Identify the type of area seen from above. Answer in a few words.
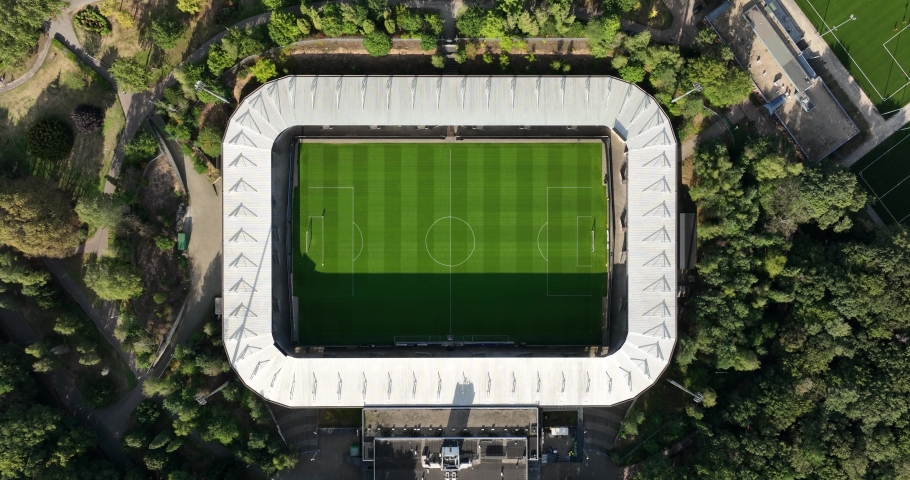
sports ground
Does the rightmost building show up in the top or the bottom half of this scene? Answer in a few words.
top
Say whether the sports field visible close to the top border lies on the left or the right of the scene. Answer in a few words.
right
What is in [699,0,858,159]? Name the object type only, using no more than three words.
building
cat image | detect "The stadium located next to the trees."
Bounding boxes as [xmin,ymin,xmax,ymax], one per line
[220,72,680,412]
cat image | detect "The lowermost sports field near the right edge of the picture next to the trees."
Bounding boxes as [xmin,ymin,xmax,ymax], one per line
[848,121,910,236]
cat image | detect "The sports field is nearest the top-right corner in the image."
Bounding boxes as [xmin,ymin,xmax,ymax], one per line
[796,0,910,113]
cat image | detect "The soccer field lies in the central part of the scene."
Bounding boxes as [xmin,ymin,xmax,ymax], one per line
[295,142,606,345]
